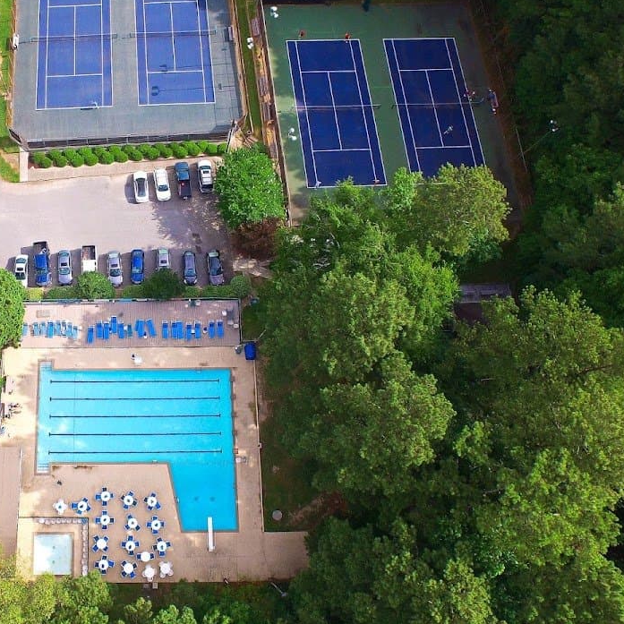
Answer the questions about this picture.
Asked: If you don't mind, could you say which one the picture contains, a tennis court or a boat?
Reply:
tennis court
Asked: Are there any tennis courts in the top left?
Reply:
Yes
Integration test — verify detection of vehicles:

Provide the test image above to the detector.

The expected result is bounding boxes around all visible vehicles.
[107,250,124,287]
[132,170,149,205]
[197,159,214,194]
[33,240,50,286]
[13,253,29,288]
[129,249,146,284]
[80,244,96,273]
[155,248,170,282]
[175,160,193,199]
[153,167,170,201]
[182,251,198,285]
[57,249,73,285]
